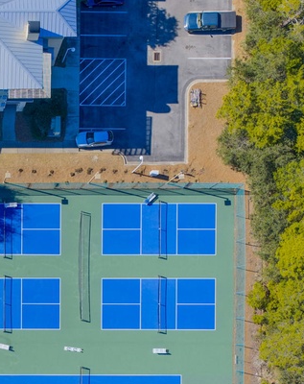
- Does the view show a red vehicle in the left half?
No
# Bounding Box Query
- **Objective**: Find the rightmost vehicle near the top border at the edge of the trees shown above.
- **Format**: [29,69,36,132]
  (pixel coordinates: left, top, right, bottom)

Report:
[185,8,236,30]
